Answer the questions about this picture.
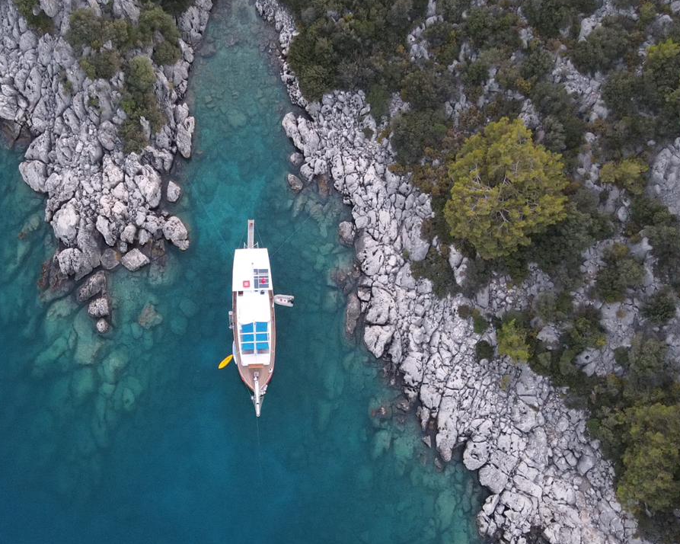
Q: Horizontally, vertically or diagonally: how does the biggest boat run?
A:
vertically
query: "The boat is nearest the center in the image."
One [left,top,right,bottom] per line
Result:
[275,294,295,307]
